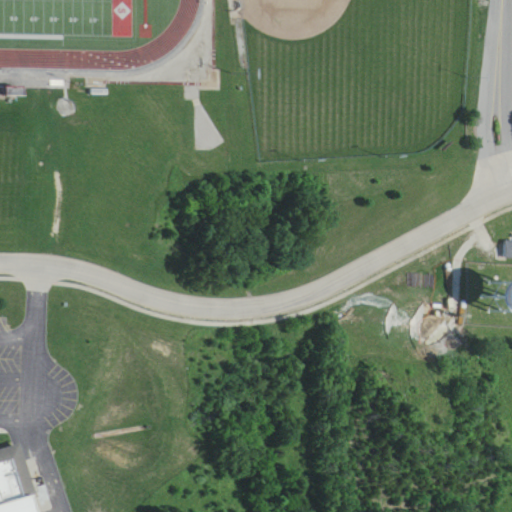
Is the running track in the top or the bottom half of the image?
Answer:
top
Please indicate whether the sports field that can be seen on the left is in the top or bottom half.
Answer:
top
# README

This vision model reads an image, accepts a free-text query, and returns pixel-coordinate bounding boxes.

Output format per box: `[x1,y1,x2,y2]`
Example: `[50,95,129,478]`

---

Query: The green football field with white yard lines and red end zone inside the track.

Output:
[0,0,180,49]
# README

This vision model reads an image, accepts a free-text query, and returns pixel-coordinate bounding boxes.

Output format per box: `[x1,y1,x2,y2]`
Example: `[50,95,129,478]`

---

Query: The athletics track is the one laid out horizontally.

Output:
[0,0,204,72]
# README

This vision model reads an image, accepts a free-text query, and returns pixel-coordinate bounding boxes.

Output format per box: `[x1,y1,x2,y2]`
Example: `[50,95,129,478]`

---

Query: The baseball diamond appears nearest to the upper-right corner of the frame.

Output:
[236,0,472,160]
